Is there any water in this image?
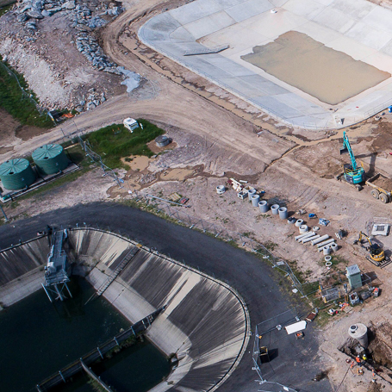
Yes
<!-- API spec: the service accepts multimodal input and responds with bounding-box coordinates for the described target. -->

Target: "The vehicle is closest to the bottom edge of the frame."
[360,229,386,270]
